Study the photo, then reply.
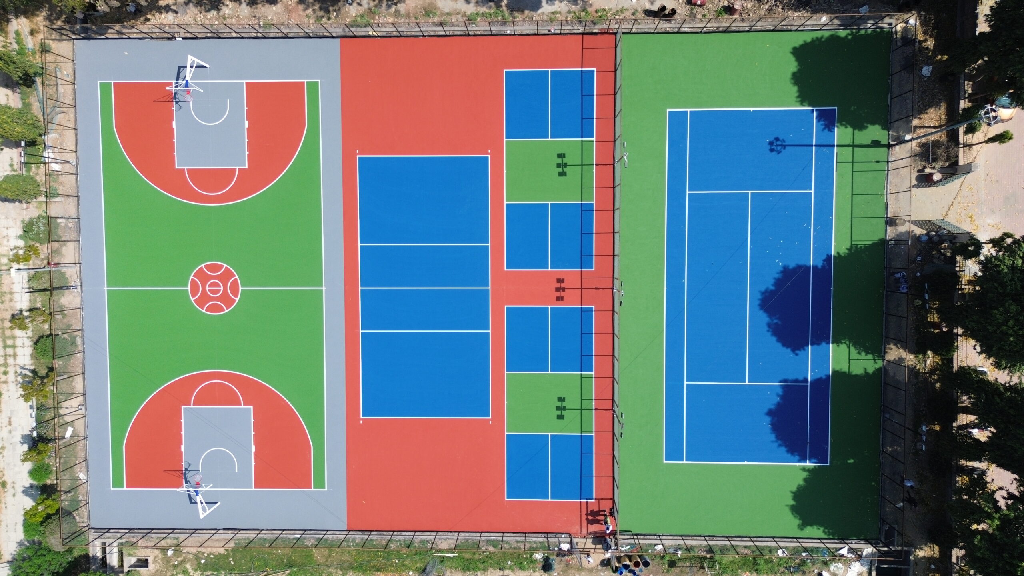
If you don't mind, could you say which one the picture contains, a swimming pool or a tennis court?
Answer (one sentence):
Looking from above, you can make out a tennis court.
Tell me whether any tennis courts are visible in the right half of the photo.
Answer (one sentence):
Yes, a tennis court appears in the right half of the photo.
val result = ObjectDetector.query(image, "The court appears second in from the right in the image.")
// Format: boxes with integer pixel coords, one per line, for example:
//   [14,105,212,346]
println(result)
[340,35,614,533]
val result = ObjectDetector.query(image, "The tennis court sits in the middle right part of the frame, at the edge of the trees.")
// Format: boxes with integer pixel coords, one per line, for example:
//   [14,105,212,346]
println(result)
[612,32,892,536]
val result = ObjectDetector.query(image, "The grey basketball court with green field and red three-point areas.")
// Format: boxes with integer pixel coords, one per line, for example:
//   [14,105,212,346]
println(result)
[74,38,347,531]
